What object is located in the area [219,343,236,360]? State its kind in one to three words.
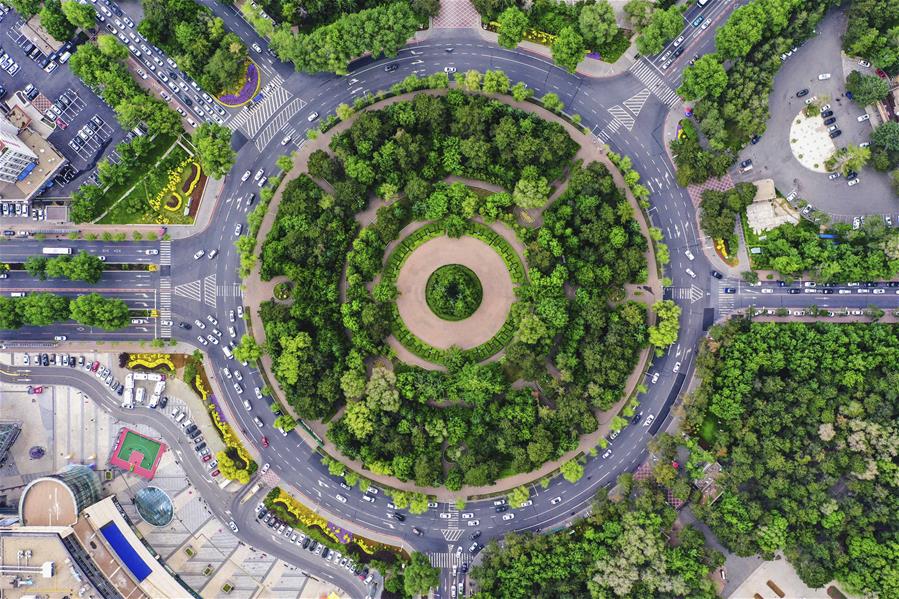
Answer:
vehicle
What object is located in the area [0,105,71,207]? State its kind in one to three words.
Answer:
building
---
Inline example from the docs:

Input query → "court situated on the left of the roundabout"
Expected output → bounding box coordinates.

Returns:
[107,428,168,481]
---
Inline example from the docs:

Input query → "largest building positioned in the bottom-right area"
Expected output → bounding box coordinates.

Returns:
[696,463,722,503]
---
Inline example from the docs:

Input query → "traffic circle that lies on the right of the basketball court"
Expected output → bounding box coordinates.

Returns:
[200,38,708,546]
